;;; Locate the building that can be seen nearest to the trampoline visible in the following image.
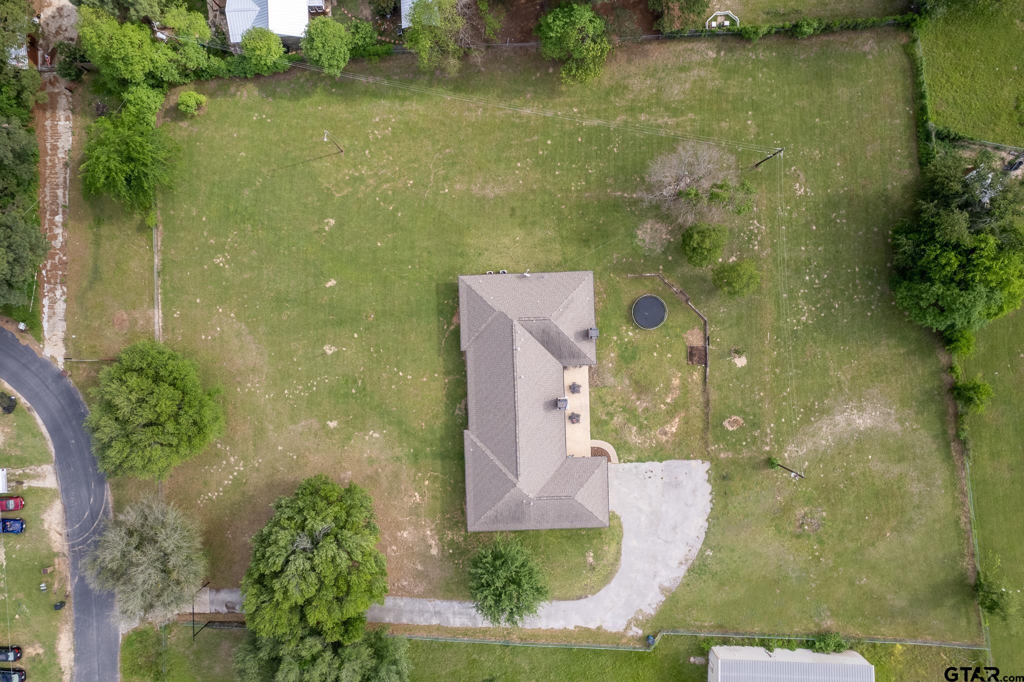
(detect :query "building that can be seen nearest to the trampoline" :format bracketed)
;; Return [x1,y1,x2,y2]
[458,271,611,532]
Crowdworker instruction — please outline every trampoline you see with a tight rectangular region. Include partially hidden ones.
[632,294,667,330]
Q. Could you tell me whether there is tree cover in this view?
Yes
